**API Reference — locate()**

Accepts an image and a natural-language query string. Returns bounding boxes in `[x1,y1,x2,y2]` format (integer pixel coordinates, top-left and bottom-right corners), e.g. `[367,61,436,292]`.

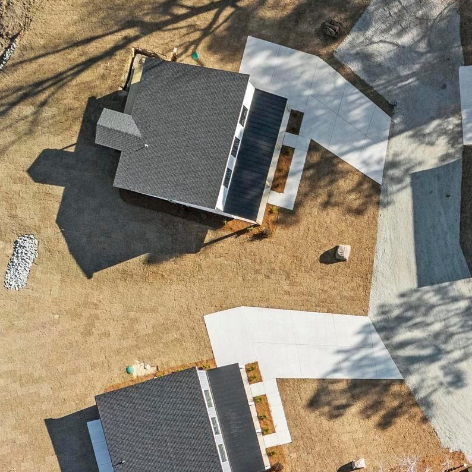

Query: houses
[93,364,270,472]
[94,57,289,227]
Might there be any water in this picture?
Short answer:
No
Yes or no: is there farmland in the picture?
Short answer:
No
